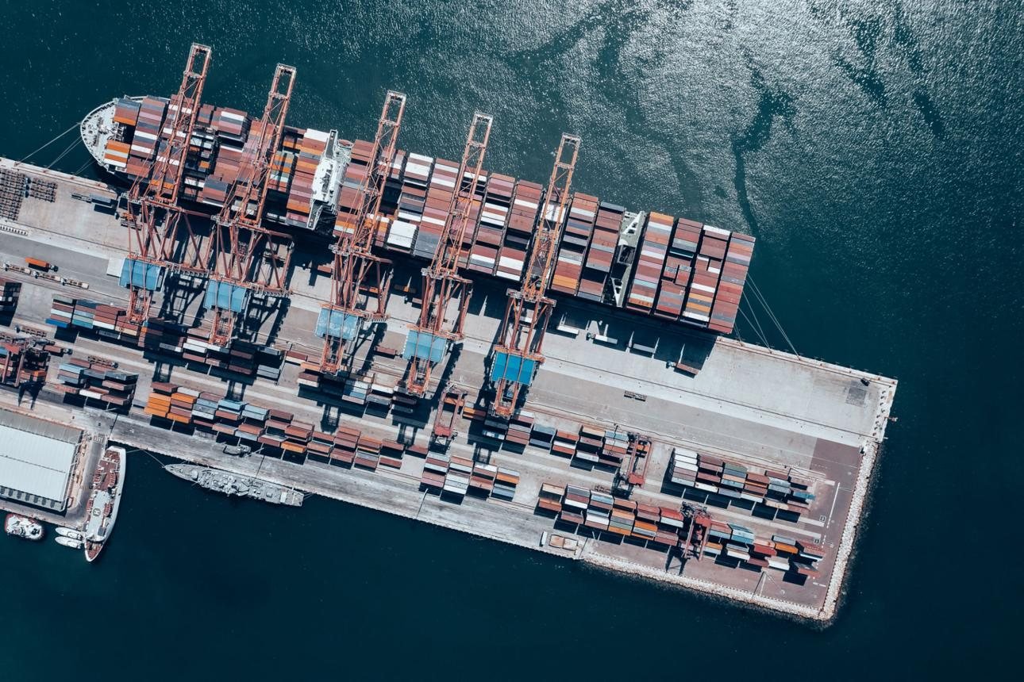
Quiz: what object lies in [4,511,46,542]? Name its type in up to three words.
boat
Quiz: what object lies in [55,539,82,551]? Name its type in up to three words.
boat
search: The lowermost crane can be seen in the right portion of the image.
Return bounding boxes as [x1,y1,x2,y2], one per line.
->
[673,505,716,567]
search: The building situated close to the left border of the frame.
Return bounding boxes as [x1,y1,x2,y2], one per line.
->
[0,405,88,511]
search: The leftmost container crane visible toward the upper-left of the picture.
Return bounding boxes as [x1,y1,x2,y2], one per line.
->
[123,38,223,327]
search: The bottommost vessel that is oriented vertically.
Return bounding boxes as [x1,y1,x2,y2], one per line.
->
[80,444,127,563]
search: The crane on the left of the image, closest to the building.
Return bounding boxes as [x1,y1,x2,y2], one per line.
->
[0,339,51,395]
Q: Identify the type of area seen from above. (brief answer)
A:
port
